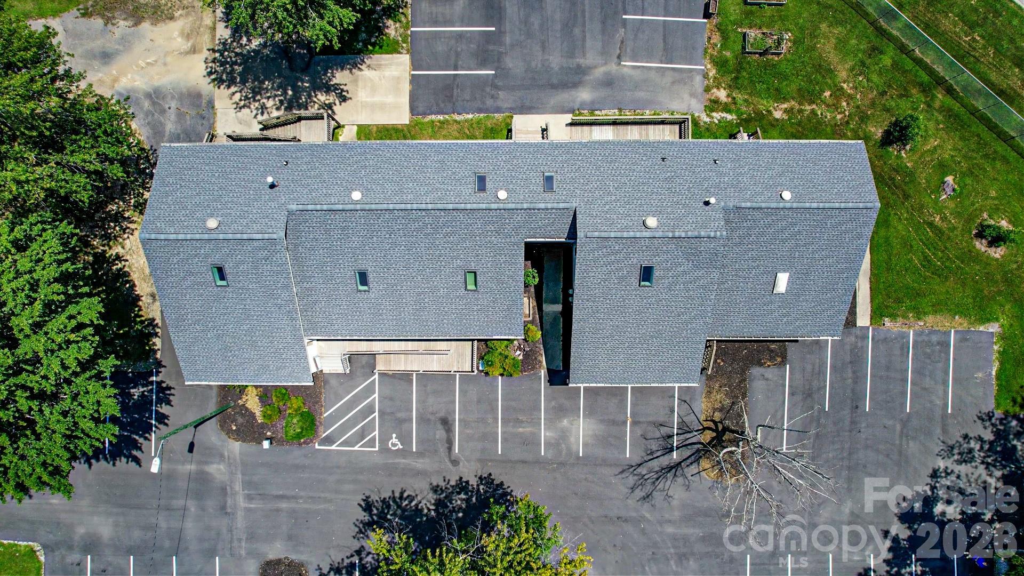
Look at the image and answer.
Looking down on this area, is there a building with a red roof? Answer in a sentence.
No, the picture doesn't show any building with a red roof.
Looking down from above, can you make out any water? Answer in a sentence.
No, there is no water in the image.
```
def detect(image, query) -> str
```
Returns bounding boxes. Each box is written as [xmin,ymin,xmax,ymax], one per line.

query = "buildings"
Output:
[139,139,879,387]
